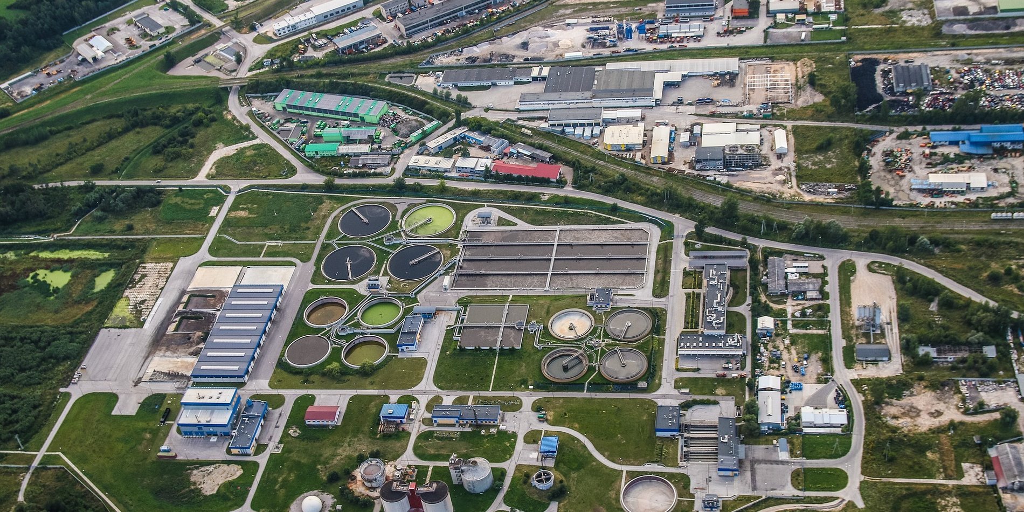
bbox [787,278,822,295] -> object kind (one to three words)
barn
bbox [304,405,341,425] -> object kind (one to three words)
building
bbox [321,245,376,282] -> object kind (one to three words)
storage tank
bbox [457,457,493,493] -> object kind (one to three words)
silo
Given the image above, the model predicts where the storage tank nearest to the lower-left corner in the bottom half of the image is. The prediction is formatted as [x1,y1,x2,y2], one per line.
[285,335,331,368]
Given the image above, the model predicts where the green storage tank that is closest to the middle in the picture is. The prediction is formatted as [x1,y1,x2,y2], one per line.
[402,203,456,236]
